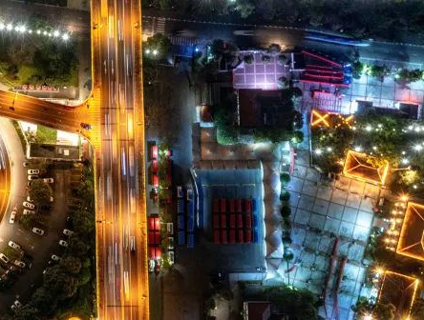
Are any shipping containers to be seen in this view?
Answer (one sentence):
No, there is no shipping container in the image.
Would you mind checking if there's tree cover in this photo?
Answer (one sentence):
Yes, tree cover shows up in the scene.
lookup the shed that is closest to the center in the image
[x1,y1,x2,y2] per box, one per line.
[193,106,213,128]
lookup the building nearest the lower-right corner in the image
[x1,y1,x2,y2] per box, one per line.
[366,271,420,320]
